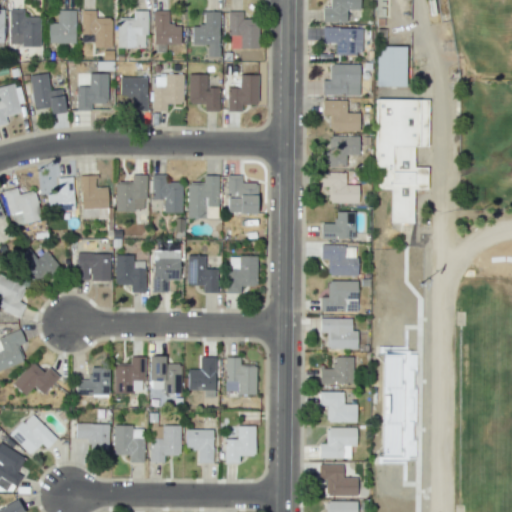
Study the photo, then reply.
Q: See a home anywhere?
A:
Yes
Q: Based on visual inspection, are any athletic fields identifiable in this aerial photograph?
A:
Yes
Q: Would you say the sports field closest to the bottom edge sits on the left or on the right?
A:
right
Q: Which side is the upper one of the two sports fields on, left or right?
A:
right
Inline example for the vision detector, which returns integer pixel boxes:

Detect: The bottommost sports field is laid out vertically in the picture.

[456,240,512,512]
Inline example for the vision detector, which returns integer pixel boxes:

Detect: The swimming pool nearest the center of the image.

[190,224,214,236]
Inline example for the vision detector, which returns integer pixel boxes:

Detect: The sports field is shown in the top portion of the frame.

[452,0,512,206]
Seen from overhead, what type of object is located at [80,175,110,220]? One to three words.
house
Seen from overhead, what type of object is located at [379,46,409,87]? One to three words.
building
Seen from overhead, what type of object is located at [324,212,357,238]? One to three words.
house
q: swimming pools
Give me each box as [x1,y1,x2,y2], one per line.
[68,218,80,230]
[357,212,366,234]
[46,414,64,434]
[190,224,214,236]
